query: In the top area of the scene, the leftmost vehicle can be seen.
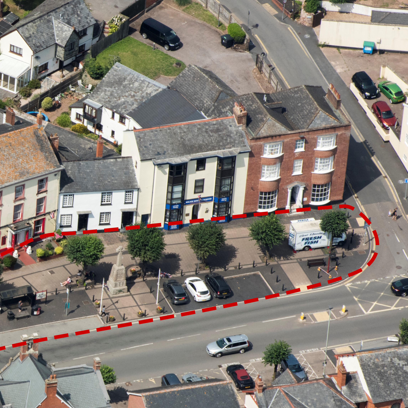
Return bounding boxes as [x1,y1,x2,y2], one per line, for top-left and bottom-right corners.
[139,16,181,50]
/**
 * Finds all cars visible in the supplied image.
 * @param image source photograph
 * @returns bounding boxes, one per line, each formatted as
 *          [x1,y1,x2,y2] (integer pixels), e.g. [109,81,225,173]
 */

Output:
[159,368,184,390]
[283,355,310,380]
[176,369,216,386]
[160,277,187,305]
[370,102,395,128]
[376,81,407,104]
[351,69,380,98]
[391,279,408,298]
[206,335,251,359]
[225,364,255,390]
[202,272,232,299]
[184,276,210,302]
